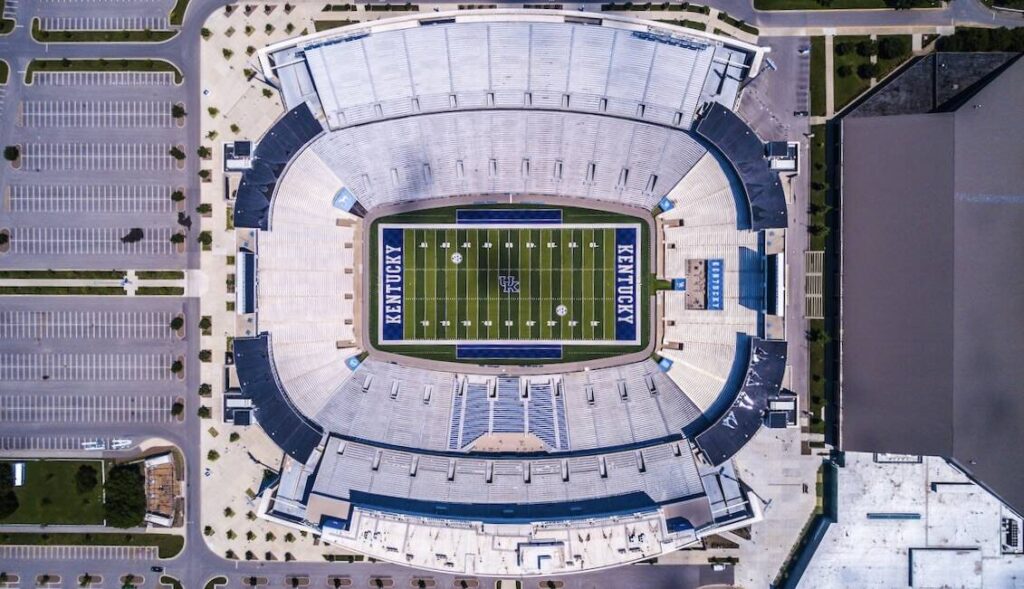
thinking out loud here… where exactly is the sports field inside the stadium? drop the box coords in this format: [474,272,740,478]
[368,204,652,363]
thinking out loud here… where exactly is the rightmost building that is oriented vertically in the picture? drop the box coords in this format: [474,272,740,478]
[831,50,1024,521]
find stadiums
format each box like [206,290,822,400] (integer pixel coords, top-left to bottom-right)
[224,9,798,577]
